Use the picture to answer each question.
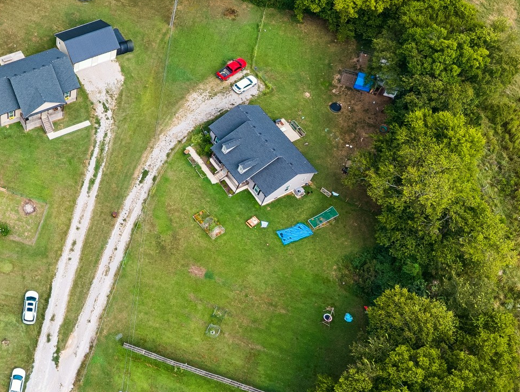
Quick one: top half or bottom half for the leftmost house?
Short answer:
top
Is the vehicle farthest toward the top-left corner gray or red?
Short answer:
red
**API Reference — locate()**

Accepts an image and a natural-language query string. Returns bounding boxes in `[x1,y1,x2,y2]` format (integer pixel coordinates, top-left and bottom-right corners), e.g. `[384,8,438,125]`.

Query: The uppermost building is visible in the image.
[55,19,121,72]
